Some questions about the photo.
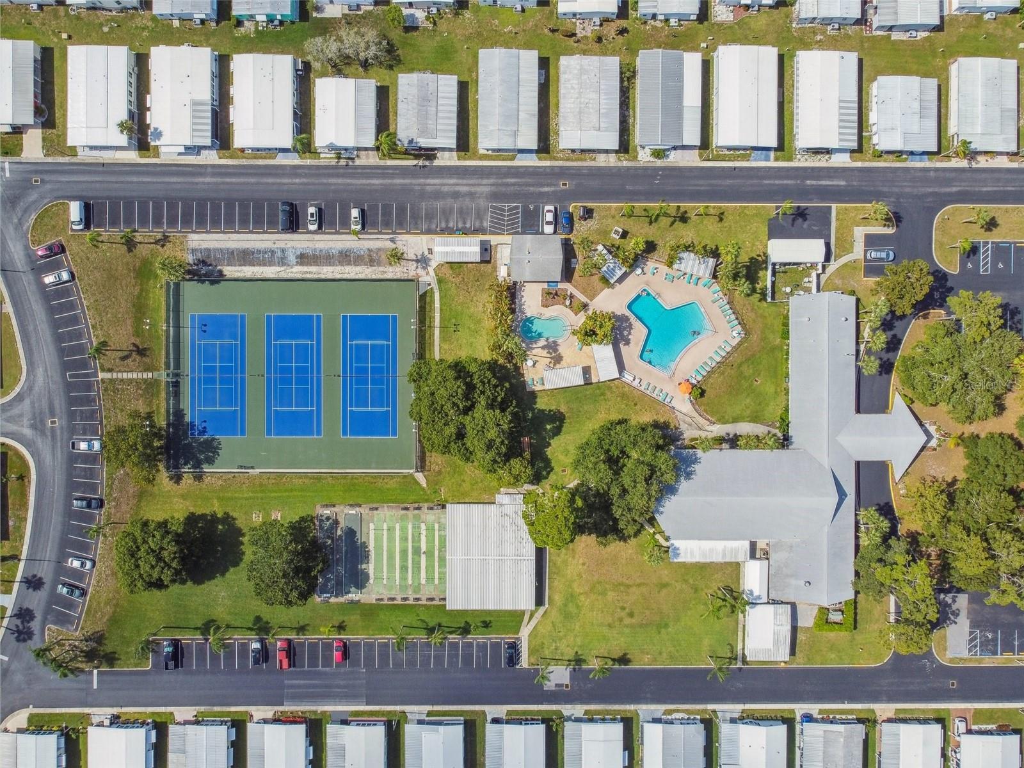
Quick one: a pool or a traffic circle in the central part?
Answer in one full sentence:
The feature located in the central part is a pool.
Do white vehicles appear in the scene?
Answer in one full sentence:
Yes, looking at the shot, I can spot a white vehicle.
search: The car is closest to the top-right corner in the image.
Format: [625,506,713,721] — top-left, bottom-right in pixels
[867,249,893,261]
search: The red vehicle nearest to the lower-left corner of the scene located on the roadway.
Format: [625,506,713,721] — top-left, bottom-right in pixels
[277,638,290,670]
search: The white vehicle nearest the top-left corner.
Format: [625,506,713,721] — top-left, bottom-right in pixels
[68,200,85,230]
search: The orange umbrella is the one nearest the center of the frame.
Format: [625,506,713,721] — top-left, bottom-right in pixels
[678,381,692,395]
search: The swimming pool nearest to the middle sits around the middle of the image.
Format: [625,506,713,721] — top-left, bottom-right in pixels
[519,314,572,342]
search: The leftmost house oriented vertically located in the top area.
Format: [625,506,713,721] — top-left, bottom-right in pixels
[0,39,42,132]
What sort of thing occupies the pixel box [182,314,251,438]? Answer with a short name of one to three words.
tennis court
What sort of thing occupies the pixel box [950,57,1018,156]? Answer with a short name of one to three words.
house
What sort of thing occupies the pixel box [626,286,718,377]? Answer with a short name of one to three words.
swimming pool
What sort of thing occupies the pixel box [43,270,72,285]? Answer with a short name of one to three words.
car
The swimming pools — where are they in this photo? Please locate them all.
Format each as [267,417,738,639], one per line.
[519,314,572,342]
[626,286,718,377]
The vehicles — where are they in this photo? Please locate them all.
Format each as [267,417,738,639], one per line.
[953,713,967,735]
[333,639,345,663]
[68,556,95,571]
[867,249,893,261]
[543,206,555,234]
[561,211,572,235]
[277,638,290,670]
[504,640,516,666]
[70,440,103,453]
[35,243,63,258]
[250,639,263,666]
[162,639,177,671]
[492,717,501,723]
[307,206,319,231]
[279,202,293,234]
[68,200,85,230]
[801,713,814,736]
[350,207,362,231]
[43,270,72,285]
[74,498,102,510]
[58,582,85,598]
